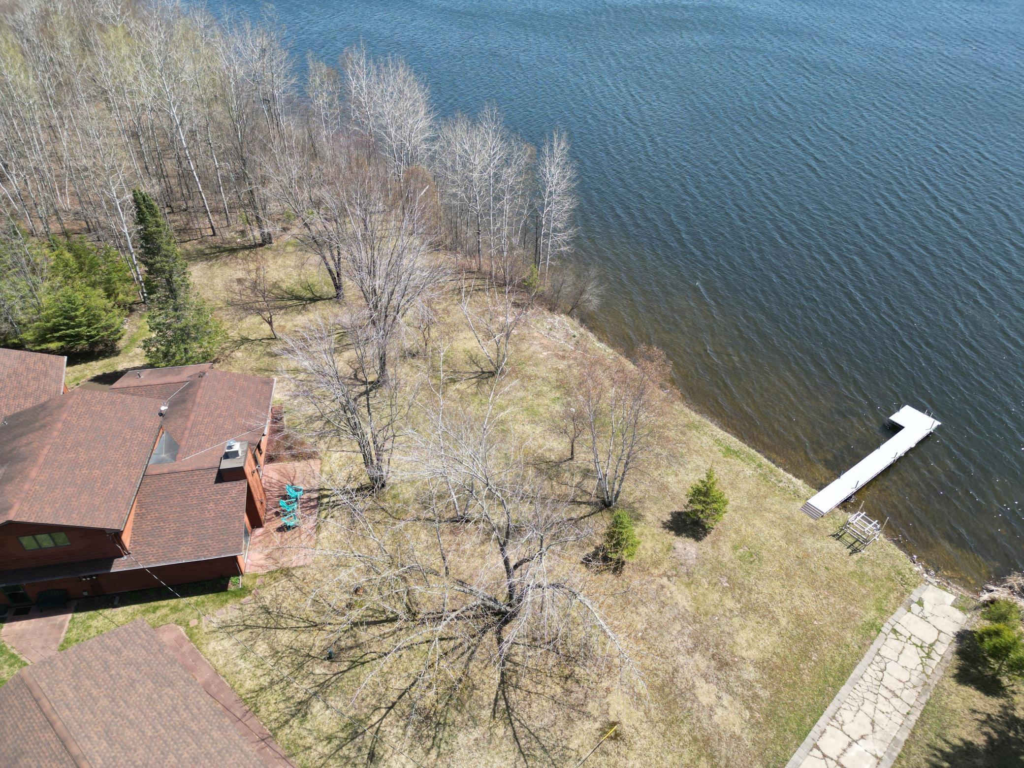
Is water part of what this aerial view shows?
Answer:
Yes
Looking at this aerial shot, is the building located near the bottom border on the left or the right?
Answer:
left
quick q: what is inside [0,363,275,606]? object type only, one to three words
house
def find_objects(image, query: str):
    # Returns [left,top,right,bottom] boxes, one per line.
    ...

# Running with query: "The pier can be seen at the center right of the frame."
[798,404,941,520]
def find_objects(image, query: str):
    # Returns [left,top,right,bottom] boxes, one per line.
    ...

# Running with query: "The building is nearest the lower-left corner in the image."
[0,619,268,768]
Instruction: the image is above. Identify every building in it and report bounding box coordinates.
[0,619,268,768]
[0,363,275,606]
